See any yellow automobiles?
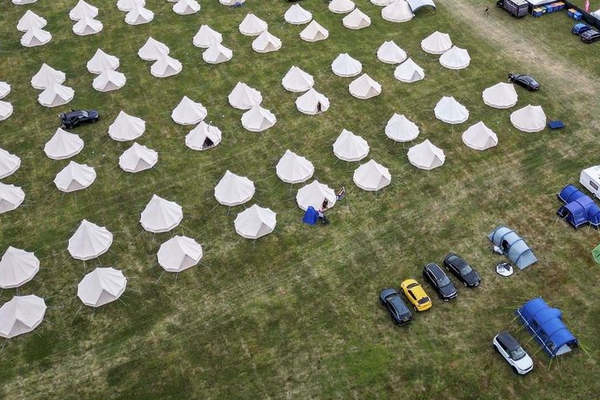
Yes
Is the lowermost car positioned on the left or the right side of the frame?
right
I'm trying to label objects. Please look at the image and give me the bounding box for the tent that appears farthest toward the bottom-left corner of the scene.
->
[0,289,57,345]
